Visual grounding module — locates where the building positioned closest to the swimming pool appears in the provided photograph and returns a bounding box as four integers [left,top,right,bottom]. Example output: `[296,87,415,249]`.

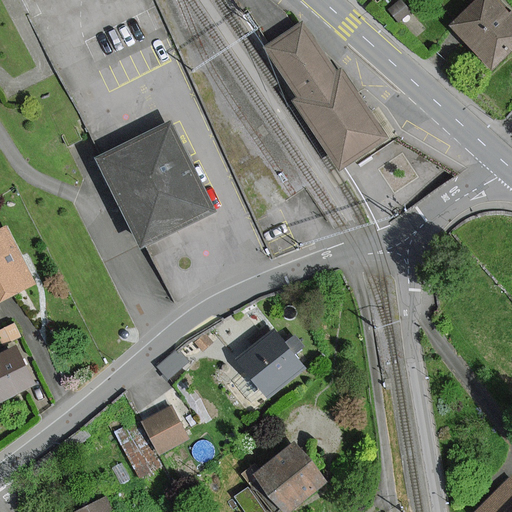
[141,406,190,456]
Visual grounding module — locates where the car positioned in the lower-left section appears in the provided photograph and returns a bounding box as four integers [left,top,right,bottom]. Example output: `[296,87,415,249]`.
[32,380,45,401]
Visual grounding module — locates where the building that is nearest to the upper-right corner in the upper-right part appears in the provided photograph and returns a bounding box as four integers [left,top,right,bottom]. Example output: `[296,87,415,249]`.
[450,0,512,70]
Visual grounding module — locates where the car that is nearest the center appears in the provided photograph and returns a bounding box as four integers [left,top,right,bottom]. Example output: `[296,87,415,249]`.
[264,224,288,240]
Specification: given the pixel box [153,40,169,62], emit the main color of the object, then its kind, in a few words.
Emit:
white car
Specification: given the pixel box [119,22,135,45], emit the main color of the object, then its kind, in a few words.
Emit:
white car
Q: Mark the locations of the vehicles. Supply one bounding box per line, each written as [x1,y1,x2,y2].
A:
[96,32,113,54]
[127,17,144,40]
[264,224,288,240]
[32,380,45,401]
[194,163,208,182]
[119,22,135,45]
[106,26,124,50]
[153,40,169,62]
[206,186,222,208]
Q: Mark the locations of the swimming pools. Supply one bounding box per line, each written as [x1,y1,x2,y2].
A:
[189,440,215,464]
